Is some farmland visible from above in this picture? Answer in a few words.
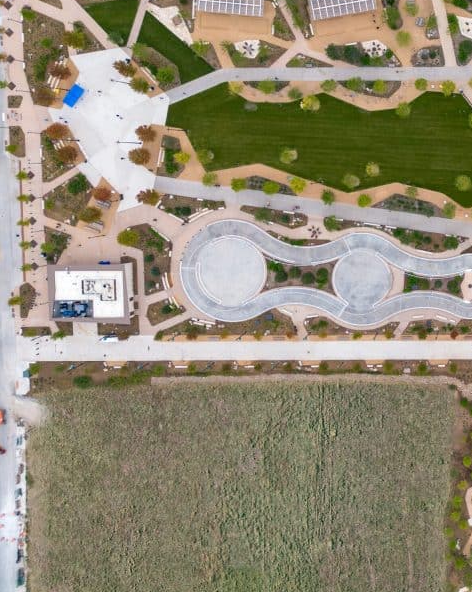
Yes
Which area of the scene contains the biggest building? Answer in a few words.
left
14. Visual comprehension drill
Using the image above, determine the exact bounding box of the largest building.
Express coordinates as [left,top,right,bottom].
[47,262,138,324]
